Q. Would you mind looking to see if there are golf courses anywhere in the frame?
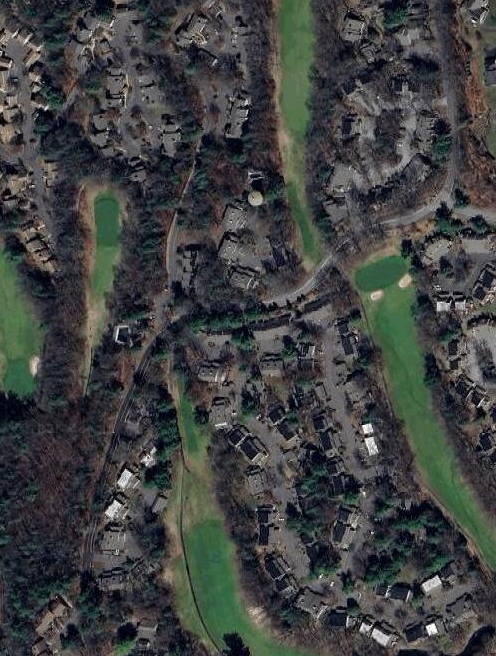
Yes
